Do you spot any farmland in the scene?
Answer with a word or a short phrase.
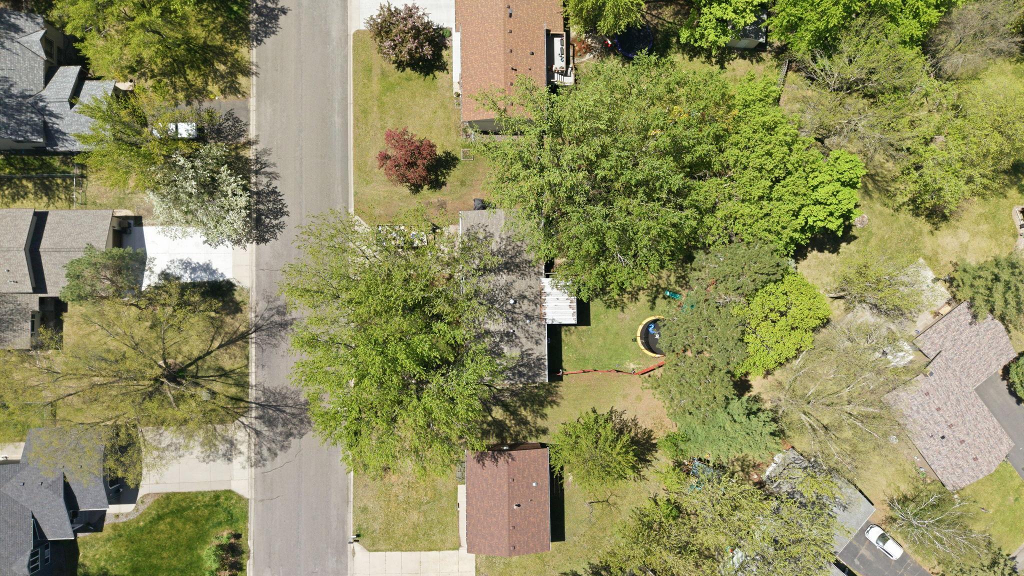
No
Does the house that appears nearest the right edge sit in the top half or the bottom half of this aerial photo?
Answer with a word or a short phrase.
bottom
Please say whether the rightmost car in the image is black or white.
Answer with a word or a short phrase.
white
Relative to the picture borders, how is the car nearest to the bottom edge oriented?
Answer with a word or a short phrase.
diagonally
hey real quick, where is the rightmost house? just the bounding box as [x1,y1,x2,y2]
[879,298,1015,492]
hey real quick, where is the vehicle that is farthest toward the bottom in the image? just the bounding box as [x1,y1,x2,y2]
[865,522,910,565]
